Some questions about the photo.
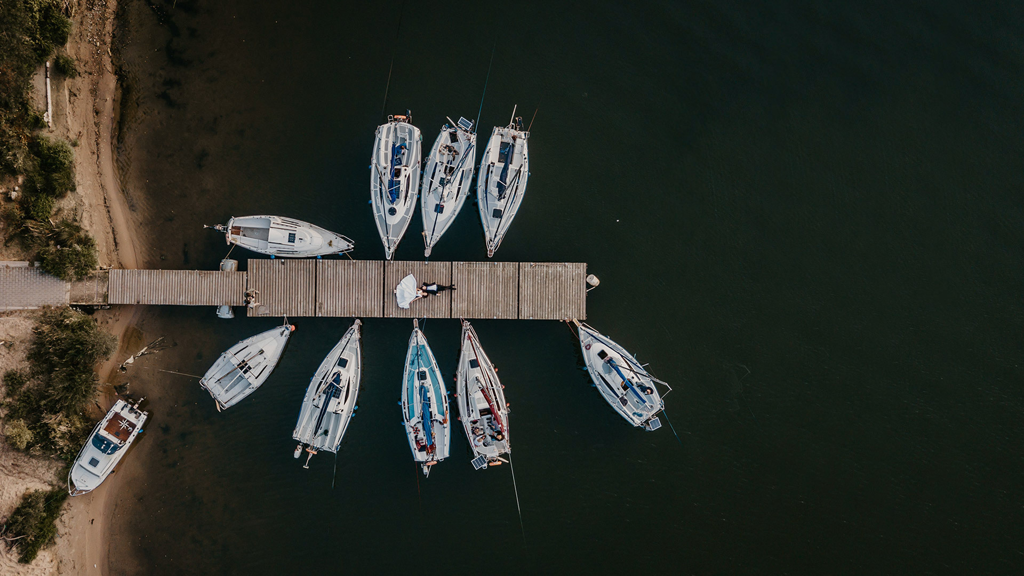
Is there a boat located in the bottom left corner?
Yes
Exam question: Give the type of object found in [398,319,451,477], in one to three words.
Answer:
boat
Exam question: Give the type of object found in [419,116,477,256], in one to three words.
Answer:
boat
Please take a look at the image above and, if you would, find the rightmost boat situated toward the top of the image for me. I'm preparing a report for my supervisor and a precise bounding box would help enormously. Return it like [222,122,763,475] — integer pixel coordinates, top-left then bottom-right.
[474,105,532,257]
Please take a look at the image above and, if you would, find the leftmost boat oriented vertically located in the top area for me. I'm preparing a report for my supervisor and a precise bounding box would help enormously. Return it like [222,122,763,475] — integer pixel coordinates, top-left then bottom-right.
[368,109,423,259]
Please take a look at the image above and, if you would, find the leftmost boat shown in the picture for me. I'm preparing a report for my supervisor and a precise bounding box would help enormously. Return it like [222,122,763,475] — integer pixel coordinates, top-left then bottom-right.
[68,396,152,496]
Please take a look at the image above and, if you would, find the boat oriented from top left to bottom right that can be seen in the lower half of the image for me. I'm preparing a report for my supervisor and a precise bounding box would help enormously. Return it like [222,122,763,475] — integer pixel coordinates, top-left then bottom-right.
[573,318,672,431]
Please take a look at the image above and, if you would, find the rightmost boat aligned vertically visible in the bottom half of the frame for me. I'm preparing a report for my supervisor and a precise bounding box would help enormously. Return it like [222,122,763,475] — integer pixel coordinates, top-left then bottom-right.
[453,321,512,470]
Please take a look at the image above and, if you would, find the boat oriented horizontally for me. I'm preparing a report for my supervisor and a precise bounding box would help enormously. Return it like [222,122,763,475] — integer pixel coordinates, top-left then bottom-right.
[204,215,354,259]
